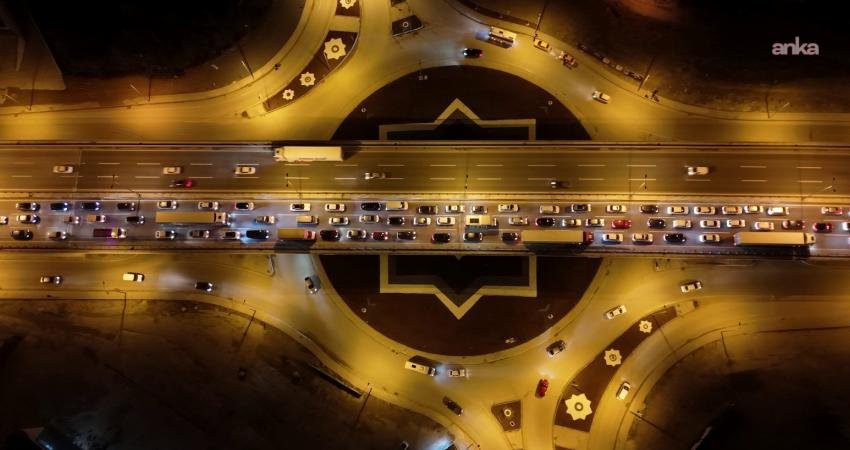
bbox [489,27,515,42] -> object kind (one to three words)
vehicle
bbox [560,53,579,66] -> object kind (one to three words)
vehicle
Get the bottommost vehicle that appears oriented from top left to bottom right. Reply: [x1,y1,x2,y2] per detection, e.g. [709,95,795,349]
[442,396,462,416]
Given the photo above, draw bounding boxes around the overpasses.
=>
[0,139,850,267]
